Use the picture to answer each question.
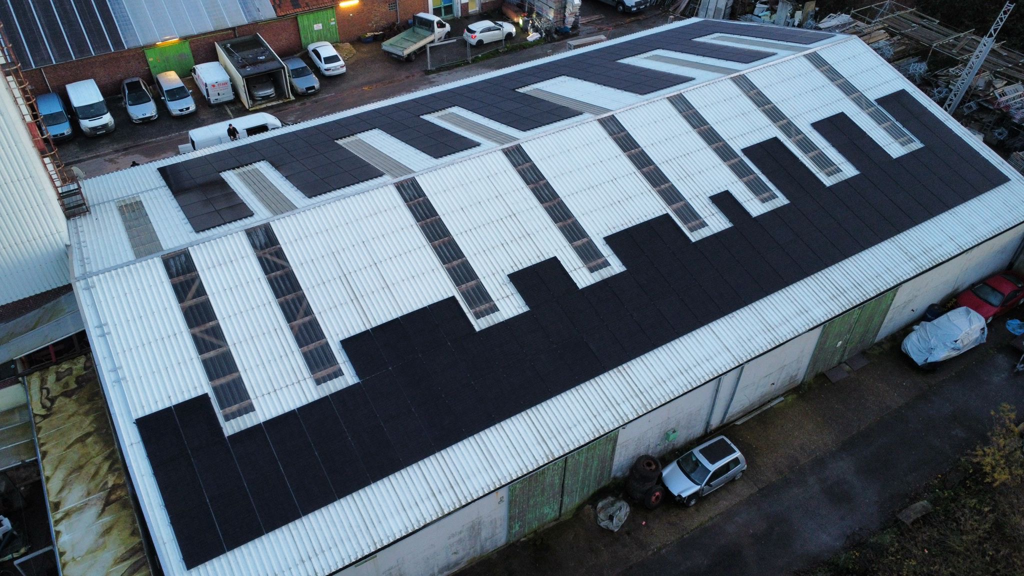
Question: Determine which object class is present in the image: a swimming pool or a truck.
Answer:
truck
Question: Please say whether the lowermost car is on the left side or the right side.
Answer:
right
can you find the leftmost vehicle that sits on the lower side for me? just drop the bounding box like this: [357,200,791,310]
[662,430,750,502]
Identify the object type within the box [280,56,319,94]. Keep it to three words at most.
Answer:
car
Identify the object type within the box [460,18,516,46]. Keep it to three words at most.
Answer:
car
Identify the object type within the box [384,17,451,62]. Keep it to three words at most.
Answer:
truck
